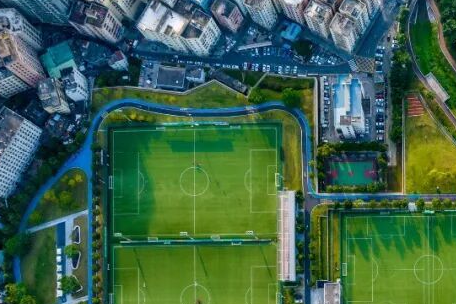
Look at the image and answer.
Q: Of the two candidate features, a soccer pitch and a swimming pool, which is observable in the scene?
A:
soccer pitch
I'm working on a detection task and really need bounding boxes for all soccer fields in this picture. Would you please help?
[111,126,280,237]
[111,244,280,304]
[343,211,456,304]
